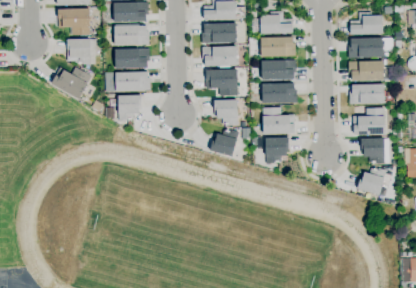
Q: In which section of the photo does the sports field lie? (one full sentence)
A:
The sports field sits in the bottom section of the image.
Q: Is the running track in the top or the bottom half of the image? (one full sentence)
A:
You can find the running track in the bottom half.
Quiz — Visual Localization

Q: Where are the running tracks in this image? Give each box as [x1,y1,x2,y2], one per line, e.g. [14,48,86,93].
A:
[17,144,390,288]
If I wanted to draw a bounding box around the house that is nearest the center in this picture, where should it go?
[210,130,238,154]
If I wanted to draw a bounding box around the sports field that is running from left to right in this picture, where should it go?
[38,162,372,288]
